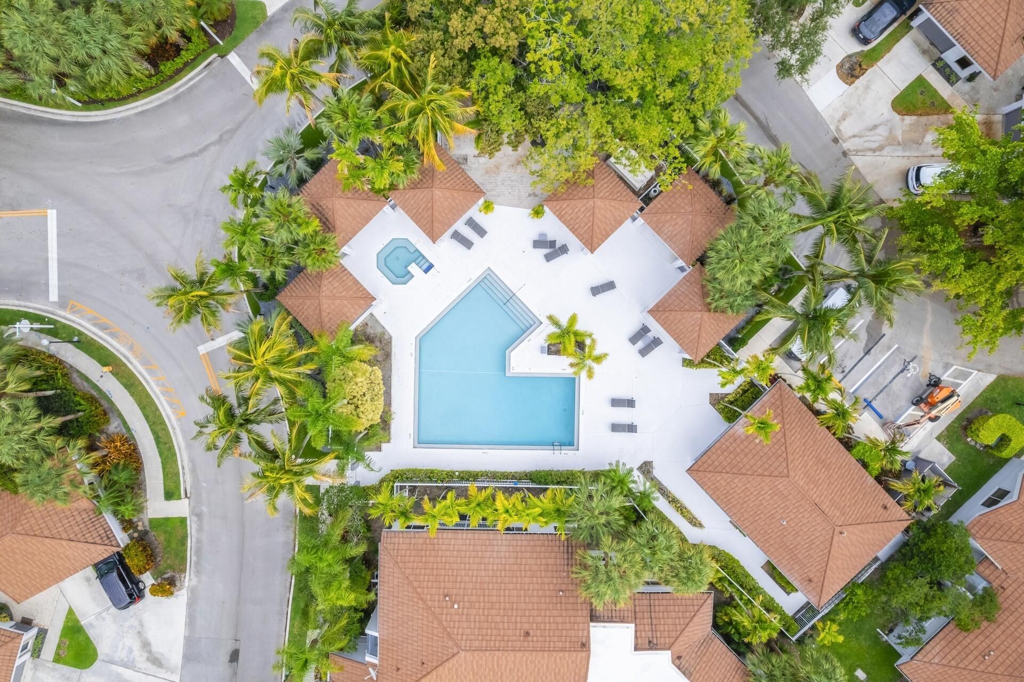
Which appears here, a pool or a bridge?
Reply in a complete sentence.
The image shows a pool.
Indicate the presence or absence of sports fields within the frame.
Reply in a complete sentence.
No, there appears to be no sports field in this shot.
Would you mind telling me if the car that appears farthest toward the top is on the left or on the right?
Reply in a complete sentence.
The car that appears farthest toward the top is on the right side of the image.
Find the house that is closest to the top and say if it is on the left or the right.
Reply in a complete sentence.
The house that is closest to the top appears in the right half of the scene.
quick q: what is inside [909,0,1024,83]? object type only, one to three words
house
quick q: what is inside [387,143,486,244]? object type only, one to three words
building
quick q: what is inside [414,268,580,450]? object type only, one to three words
swimming pool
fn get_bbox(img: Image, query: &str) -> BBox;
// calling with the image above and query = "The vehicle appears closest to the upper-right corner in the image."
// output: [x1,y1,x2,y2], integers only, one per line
[851,0,916,48]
